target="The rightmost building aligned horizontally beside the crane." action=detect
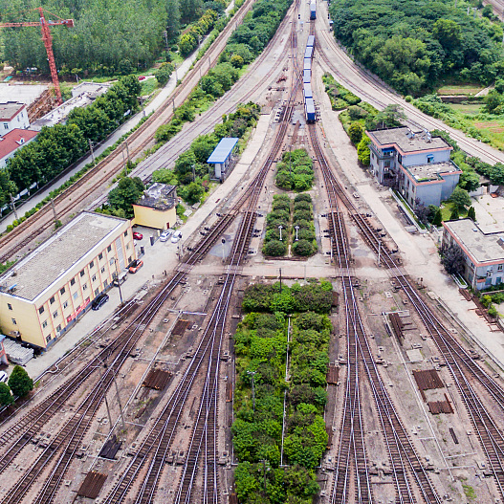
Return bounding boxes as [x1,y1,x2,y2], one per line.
[73,82,113,100]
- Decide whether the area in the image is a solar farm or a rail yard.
rail yard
